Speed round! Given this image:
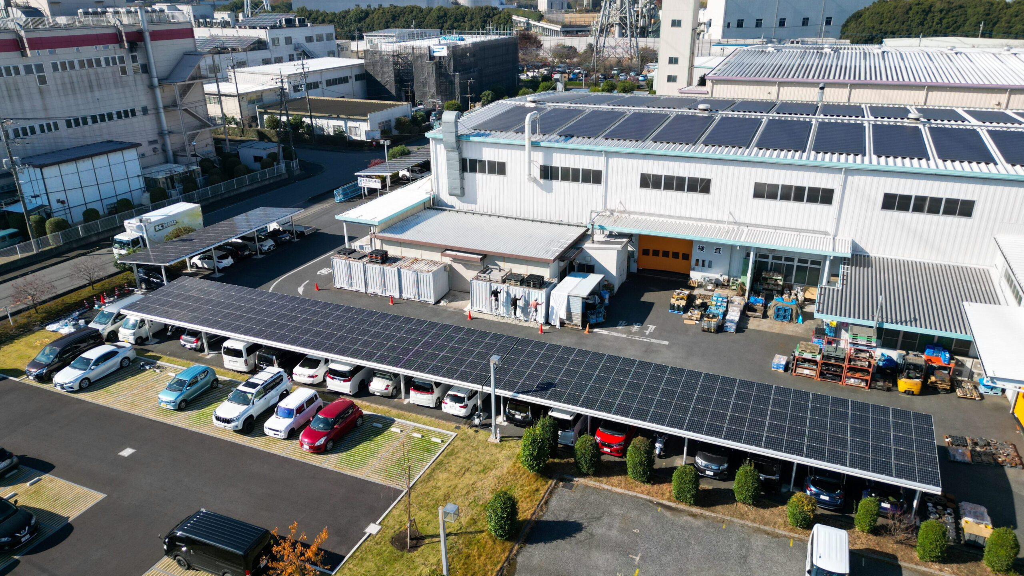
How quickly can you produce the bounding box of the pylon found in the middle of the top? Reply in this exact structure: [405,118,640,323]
[591,0,637,68]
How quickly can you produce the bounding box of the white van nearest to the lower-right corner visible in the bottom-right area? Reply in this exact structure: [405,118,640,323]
[799,531,848,576]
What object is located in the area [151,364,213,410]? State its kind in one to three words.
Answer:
car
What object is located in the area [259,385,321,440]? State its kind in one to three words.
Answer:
car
